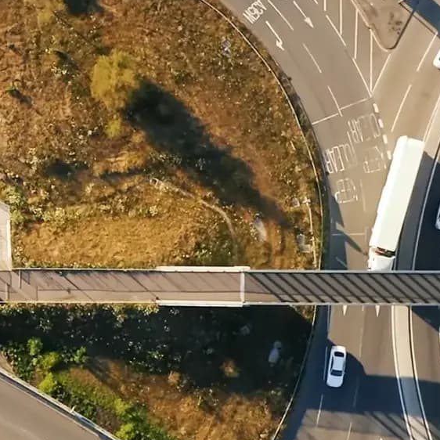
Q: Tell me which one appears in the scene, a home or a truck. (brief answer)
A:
truck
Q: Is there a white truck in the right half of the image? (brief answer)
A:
Yes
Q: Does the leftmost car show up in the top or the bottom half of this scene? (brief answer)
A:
bottom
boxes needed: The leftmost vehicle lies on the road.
[327,346,347,388]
